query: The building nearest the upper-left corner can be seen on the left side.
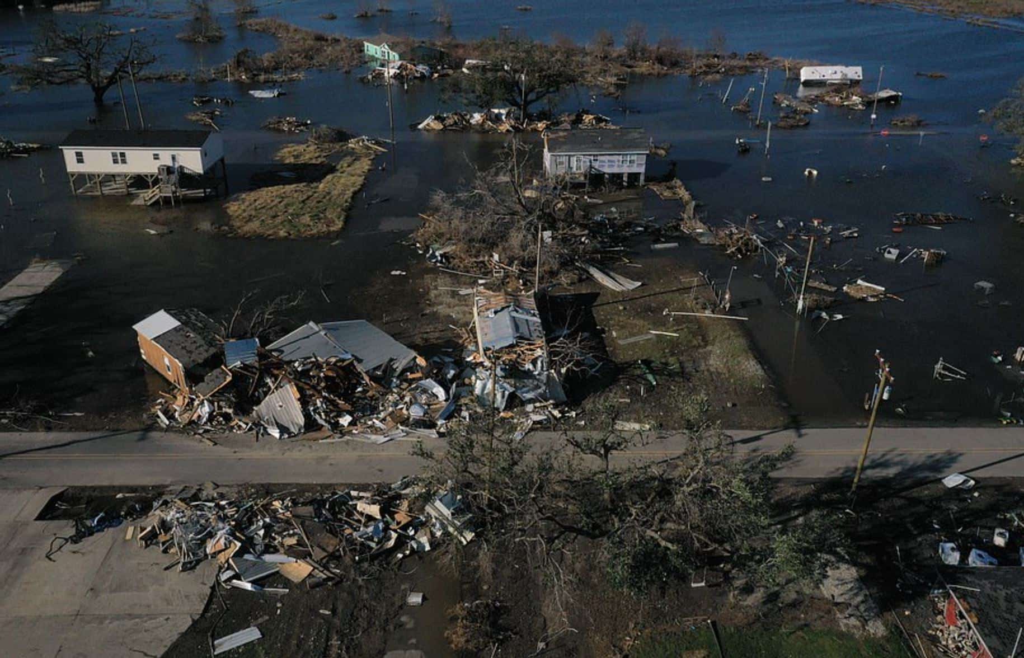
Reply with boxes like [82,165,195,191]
[57,128,221,199]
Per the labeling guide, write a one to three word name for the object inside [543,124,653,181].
house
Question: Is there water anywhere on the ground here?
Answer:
Yes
